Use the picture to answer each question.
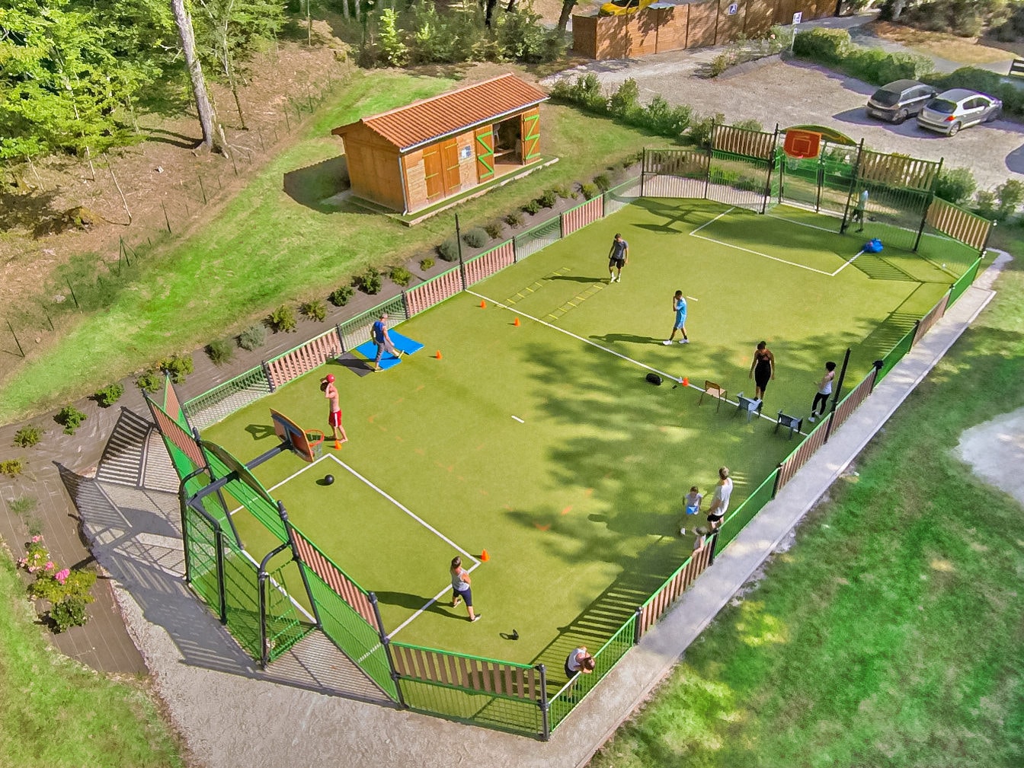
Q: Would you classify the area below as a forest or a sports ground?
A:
sports ground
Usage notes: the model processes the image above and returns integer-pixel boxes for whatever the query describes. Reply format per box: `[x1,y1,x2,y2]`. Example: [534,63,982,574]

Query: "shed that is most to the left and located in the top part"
[330,70,553,214]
